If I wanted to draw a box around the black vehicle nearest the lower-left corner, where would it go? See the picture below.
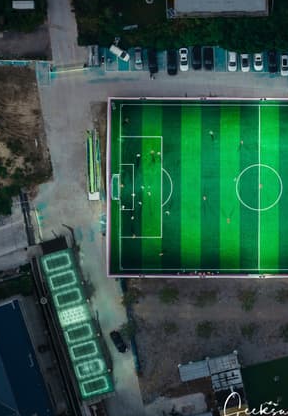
[109,330,127,354]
